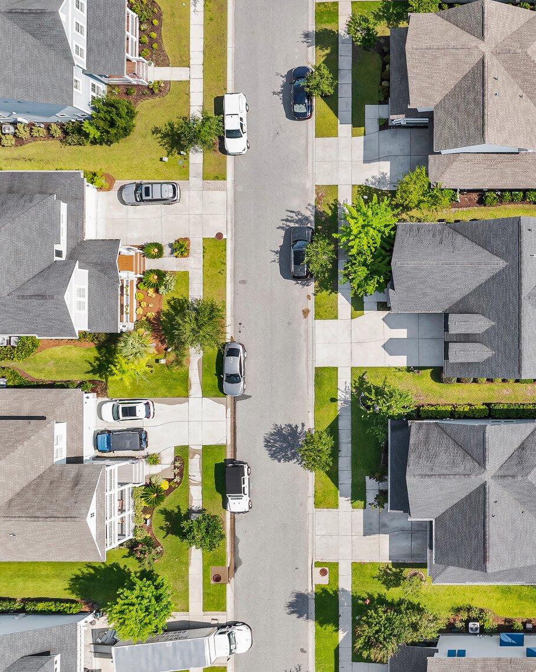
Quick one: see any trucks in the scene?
Yes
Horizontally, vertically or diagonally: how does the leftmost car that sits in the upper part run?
horizontally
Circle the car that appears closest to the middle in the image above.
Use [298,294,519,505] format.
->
[221,341,247,396]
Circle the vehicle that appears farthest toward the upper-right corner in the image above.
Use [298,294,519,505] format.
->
[287,64,313,119]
